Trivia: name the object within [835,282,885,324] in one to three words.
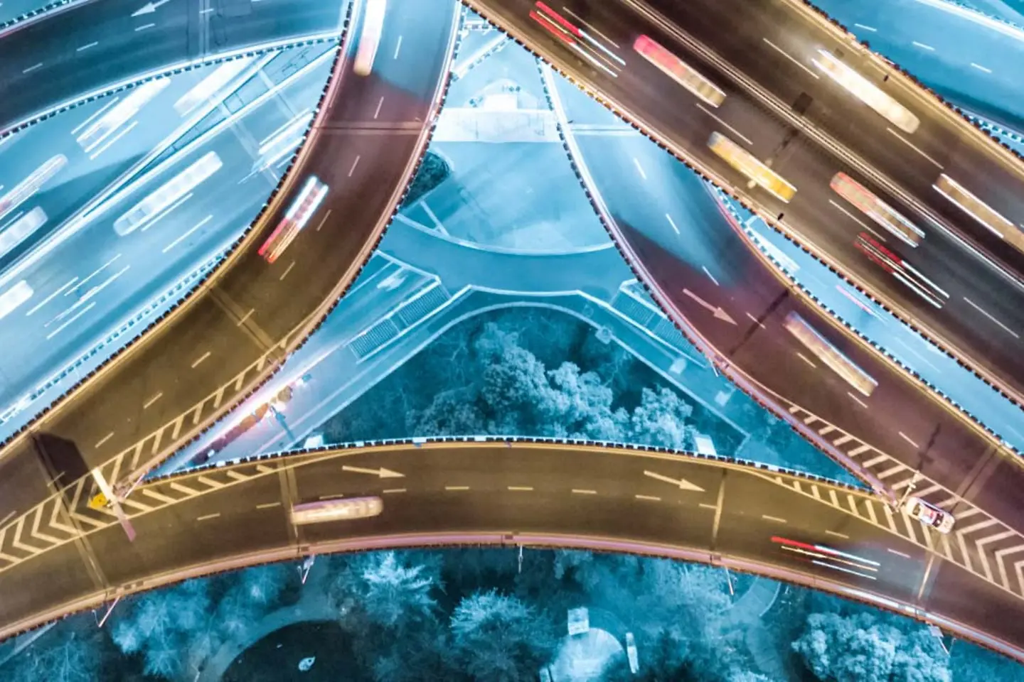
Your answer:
car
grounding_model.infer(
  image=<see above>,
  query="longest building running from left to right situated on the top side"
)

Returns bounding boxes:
[429,94,561,144]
